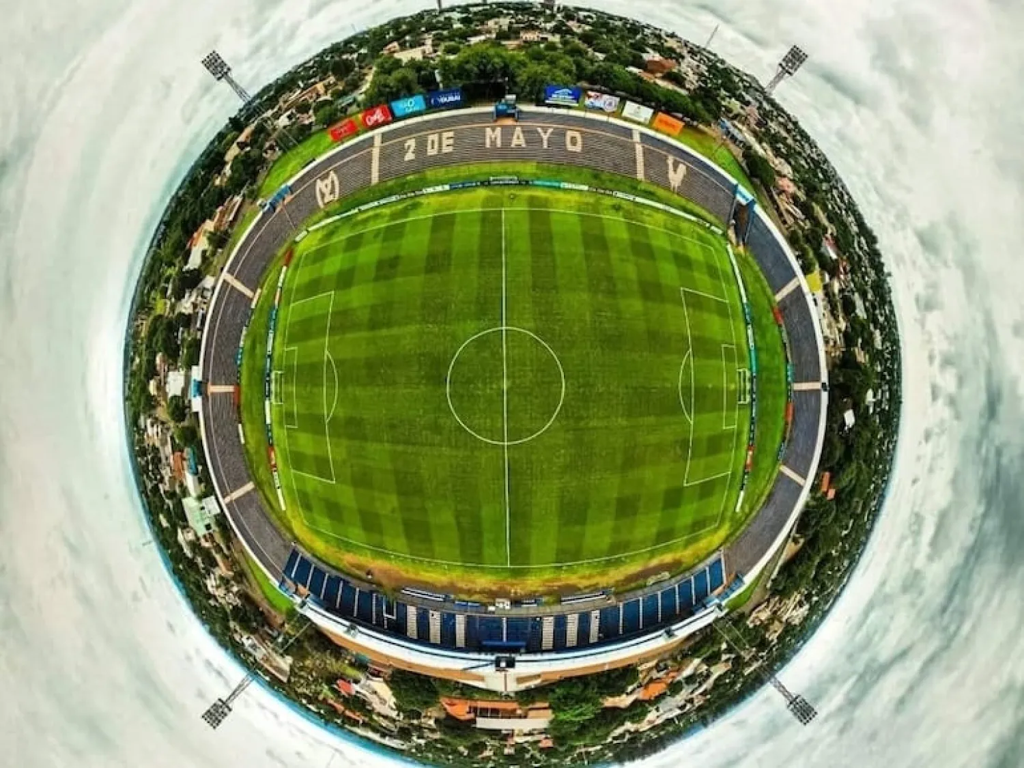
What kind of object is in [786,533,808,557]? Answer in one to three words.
house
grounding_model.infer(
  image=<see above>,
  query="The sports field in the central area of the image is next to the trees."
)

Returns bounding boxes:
[280,205,740,569]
